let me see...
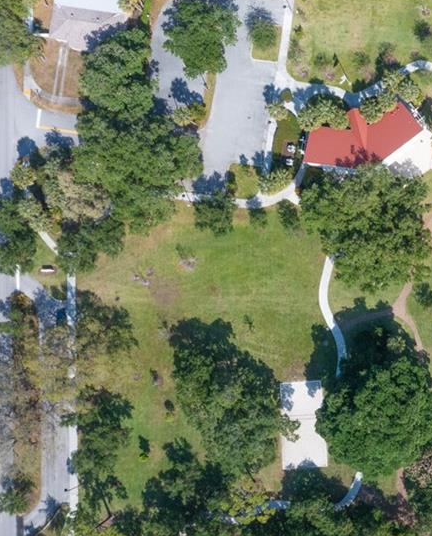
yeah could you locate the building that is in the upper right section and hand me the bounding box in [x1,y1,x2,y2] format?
[303,102,423,170]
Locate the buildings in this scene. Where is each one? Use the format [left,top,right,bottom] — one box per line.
[303,102,423,170]
[38,0,127,54]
